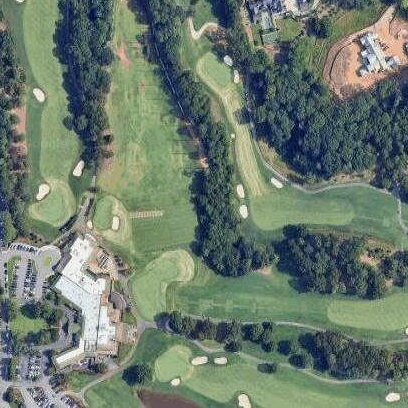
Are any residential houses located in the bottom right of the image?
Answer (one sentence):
No, looking in the bottom right of the image, there is no residential house.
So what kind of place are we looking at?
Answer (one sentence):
The picture captures a golf course.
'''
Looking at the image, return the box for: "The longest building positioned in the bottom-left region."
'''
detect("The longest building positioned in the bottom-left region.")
[52,230,119,364]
